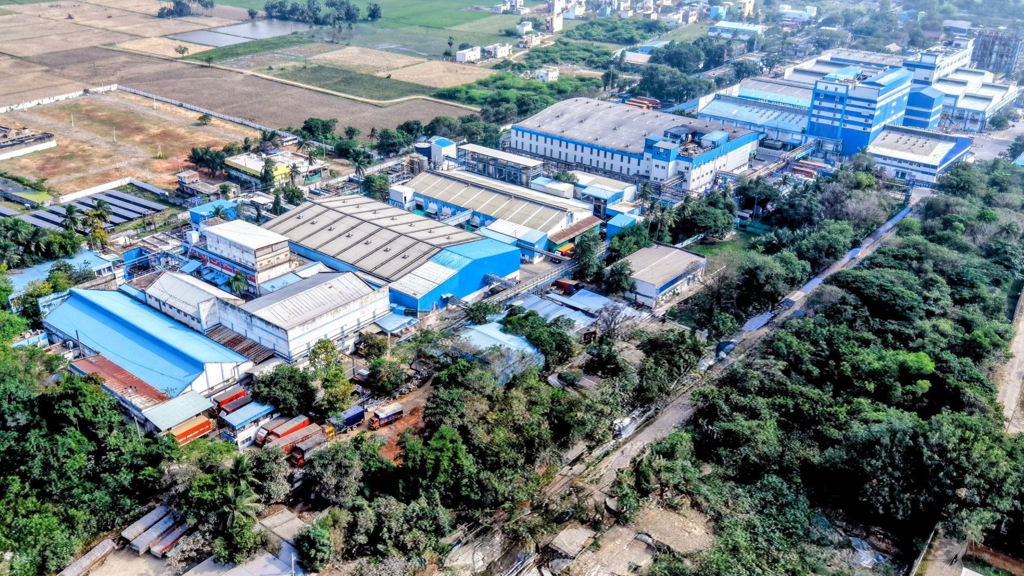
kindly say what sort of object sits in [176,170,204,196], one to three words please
building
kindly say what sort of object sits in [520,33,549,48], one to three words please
house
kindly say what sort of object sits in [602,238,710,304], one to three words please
building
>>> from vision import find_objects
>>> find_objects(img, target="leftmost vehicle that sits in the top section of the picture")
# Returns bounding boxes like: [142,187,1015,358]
[278,132,301,146]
